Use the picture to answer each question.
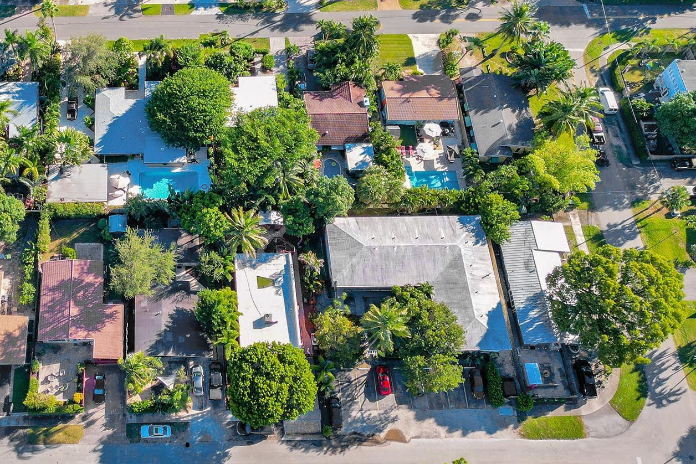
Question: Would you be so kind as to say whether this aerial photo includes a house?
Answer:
Yes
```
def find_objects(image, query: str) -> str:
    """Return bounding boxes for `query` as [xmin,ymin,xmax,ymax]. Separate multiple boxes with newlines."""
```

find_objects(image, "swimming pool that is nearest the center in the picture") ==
[321,156,344,178]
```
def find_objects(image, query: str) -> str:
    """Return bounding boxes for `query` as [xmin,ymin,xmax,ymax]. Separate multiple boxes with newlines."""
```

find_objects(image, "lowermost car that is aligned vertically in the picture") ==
[328,394,344,429]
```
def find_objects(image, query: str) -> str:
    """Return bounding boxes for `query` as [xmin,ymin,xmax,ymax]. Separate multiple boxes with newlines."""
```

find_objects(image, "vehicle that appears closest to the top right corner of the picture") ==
[598,87,622,115]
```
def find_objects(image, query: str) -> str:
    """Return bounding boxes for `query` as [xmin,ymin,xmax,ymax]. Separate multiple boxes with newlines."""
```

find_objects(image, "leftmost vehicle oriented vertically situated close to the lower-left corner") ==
[91,373,105,405]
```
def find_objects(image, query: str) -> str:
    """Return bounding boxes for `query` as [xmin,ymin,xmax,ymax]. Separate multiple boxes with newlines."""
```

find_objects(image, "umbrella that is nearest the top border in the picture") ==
[423,125,440,140]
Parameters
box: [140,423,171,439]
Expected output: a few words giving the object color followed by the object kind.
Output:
blue car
